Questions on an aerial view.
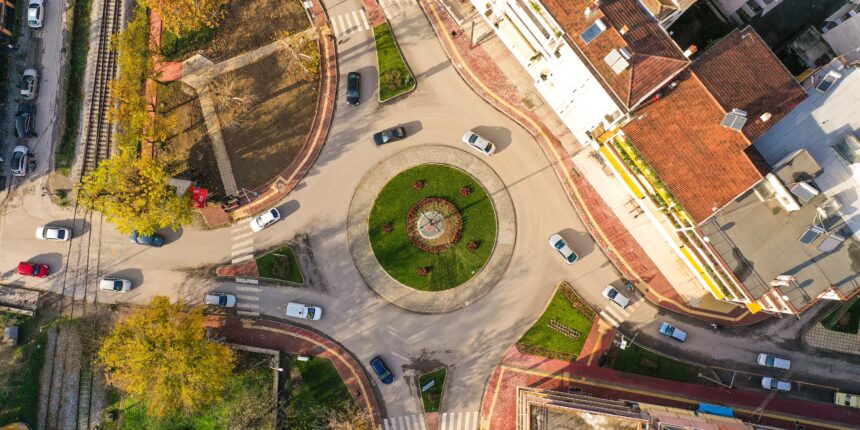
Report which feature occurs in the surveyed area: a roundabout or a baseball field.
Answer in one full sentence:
Of the two, only a roundabout appears.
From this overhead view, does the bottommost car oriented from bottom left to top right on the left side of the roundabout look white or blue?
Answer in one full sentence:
In this view, the bottommost car oriented from bottom left to top right on the left side of the roundabout is white.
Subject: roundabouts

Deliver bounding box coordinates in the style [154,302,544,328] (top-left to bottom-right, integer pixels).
[347,146,517,316]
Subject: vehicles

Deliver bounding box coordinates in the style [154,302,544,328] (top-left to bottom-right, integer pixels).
[600,284,632,311]
[202,291,238,307]
[754,352,793,373]
[657,321,689,343]
[249,206,281,232]
[461,129,496,156]
[547,233,579,266]
[284,302,323,321]
[366,352,396,386]
[373,124,406,144]
[18,68,40,101]
[758,375,793,394]
[344,72,361,105]
[13,104,36,139]
[831,389,860,408]
[36,225,72,241]
[10,146,32,177]
[130,230,166,248]
[98,277,134,292]
[28,0,47,29]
